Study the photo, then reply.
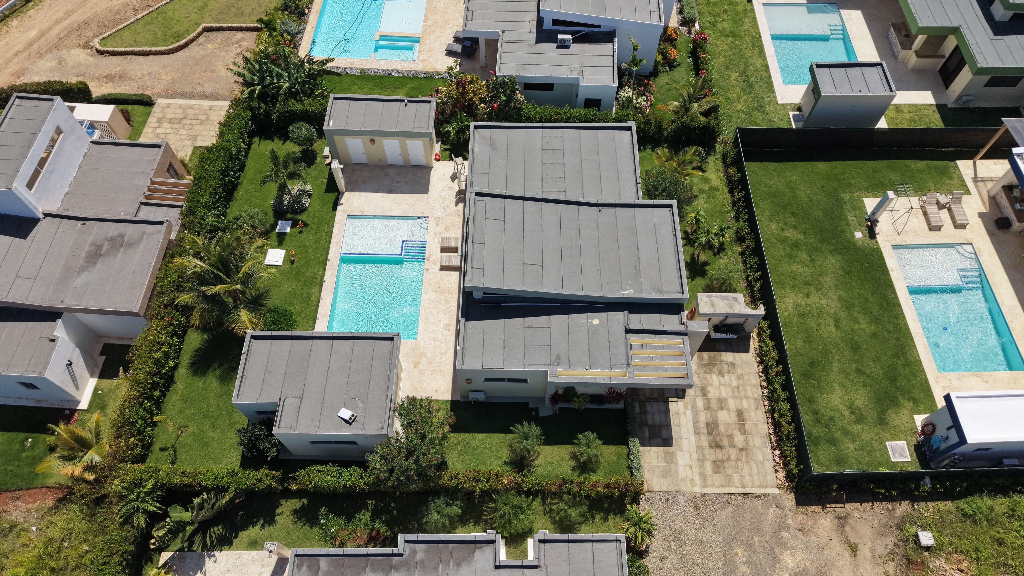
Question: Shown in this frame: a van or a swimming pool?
swimming pool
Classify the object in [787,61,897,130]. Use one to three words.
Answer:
shed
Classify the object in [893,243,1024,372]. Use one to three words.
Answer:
swimming pool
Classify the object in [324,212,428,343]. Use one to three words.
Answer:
swimming pool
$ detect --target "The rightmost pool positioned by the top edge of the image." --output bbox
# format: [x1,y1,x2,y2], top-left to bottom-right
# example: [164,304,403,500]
[762,2,859,84]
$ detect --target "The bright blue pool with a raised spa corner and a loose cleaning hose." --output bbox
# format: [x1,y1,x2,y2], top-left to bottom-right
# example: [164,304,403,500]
[309,0,426,57]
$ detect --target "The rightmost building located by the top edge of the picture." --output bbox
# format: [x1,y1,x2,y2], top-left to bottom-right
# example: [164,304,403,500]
[899,0,1024,109]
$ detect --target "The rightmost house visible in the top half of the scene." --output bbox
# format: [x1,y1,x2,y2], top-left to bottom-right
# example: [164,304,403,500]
[988,145,1024,196]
